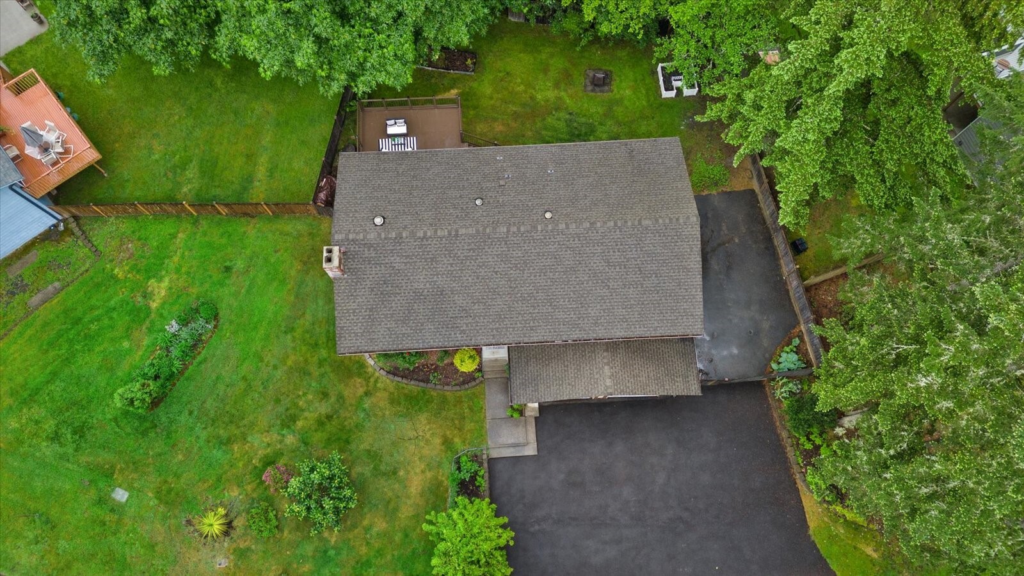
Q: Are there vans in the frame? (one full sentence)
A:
No, no van is visible in the scene.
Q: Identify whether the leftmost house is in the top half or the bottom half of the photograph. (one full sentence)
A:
Seen from above, the leftmost house lies in the top half of the view.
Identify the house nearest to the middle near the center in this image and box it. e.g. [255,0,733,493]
[323,137,705,405]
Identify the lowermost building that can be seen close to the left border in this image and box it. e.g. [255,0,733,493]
[0,141,62,259]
